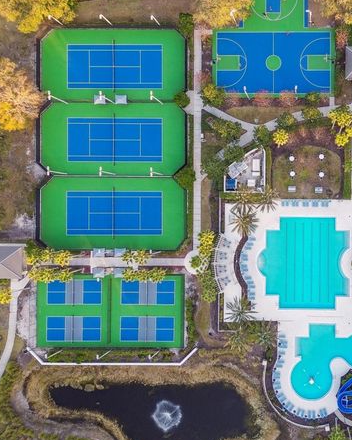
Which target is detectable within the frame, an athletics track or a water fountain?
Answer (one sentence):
It is a water fountain that can be seen here.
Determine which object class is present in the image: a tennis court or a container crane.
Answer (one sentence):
Looking from above, you can make out a tennis court.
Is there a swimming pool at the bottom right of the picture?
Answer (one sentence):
Yes, a swimming pool shows up at the bottom right of the picture.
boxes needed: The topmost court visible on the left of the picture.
[41,29,183,101]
